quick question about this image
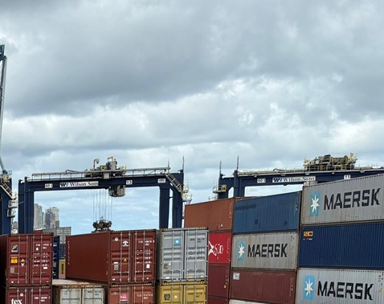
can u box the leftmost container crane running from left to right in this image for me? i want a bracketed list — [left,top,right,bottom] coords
[14,157,206,234]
